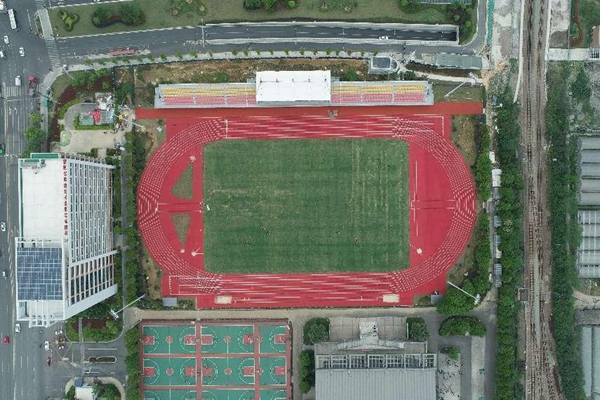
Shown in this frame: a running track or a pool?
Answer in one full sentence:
There is a running track in the scene.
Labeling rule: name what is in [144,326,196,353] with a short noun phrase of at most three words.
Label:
basketball court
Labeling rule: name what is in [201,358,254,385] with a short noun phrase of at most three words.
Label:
basketball court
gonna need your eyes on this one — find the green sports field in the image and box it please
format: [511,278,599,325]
[203,139,410,273]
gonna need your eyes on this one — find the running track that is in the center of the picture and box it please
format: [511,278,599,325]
[135,104,483,308]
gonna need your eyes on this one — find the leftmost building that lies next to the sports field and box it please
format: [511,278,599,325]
[15,153,119,329]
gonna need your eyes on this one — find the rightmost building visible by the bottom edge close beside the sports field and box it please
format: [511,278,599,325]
[315,322,437,400]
